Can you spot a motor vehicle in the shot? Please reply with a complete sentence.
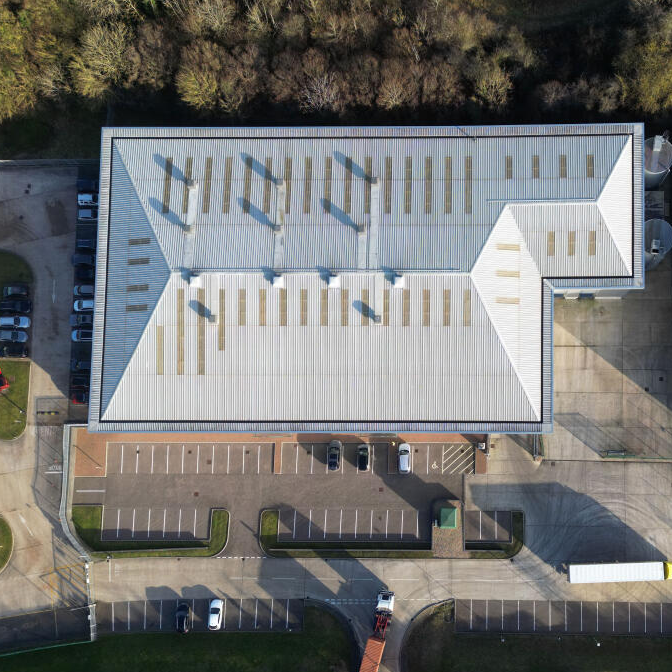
Yes, there is a motor vehicle in the image.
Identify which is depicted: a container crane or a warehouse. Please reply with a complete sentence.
There is a warehouse in the scene.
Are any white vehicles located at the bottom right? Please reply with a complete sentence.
Yes, at the bottom right there is a white vehicle.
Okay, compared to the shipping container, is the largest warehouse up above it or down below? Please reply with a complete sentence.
It's above the shipping container that the largest warehouse shows up.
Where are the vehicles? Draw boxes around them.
[75,208,99,222]
[75,299,95,313]
[71,329,93,343]
[209,598,224,632]
[0,343,31,357]
[75,284,95,298]
[0,330,29,344]
[0,376,11,389]
[0,316,31,329]
[74,237,97,251]
[563,555,672,584]
[327,441,341,472]
[397,444,412,475]
[71,314,94,328]
[70,374,91,389]
[73,178,100,193]
[176,601,192,635]
[3,285,28,298]
[74,192,99,207]
[356,445,370,472]
[73,359,92,372]
[372,587,396,638]
[75,268,96,281]
[72,253,97,267]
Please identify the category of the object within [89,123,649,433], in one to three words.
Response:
warehouse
